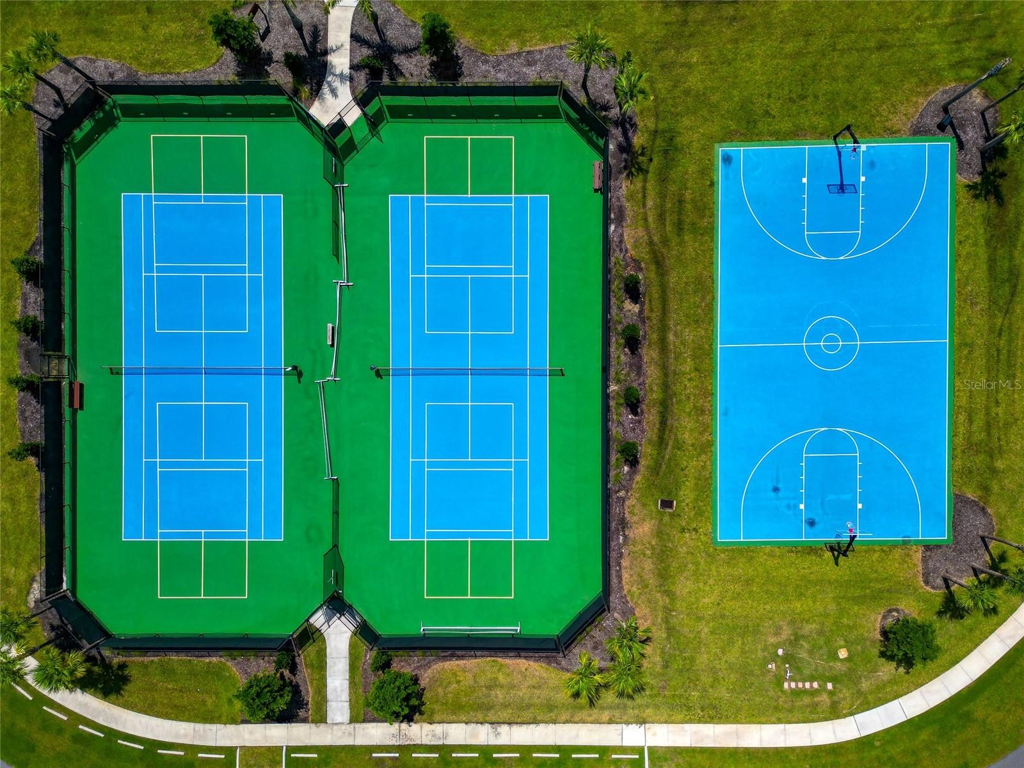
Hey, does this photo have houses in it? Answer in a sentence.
No, the picture doesn't show any house.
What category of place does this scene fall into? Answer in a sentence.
The area seen from above is a sports ground.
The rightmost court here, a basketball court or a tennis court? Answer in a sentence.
What you see as the rightmost court is a basketball court.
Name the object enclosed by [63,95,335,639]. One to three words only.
tennis court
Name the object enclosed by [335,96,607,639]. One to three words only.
tennis court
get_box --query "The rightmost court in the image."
[713,137,956,546]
